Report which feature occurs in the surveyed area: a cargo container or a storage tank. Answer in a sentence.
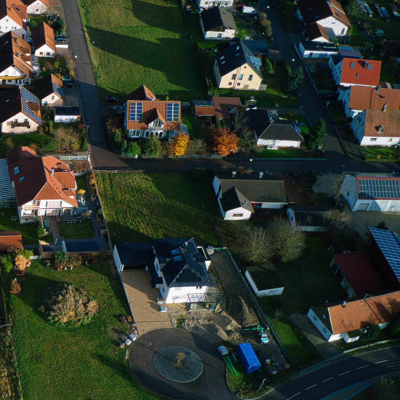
Visible in the photo is a cargo container.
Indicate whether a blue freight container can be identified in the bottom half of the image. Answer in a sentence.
Yes, a blue freight container appears in the bottom half of the image.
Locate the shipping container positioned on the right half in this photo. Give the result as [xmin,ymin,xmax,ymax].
[236,340,265,373]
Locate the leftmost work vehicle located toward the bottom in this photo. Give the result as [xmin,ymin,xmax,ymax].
[258,318,272,343]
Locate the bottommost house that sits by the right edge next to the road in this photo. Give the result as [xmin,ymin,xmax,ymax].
[311,290,400,346]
